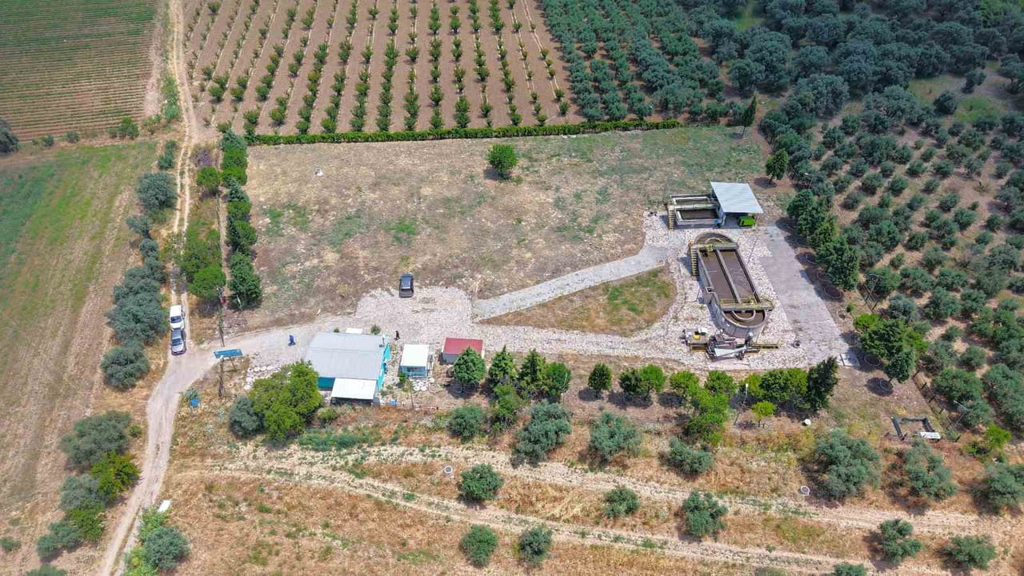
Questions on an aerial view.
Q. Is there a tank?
Yes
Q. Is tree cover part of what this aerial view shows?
Yes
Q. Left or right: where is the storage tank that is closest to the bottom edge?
right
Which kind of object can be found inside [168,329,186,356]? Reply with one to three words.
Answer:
car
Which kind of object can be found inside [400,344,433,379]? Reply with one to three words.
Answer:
building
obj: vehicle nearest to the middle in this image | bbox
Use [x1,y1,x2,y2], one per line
[399,275,414,298]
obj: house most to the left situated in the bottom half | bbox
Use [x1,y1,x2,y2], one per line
[301,327,394,411]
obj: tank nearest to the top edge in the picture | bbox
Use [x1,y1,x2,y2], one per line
[664,195,721,232]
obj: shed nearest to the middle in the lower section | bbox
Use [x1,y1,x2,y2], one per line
[443,335,485,365]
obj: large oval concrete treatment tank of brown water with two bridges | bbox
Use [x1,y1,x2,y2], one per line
[690,233,777,342]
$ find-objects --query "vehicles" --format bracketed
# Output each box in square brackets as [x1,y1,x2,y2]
[168,329,186,356]
[399,275,414,298]
[167,300,185,330]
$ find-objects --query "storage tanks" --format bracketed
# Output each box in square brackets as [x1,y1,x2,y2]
[690,233,777,342]
[664,195,721,232]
